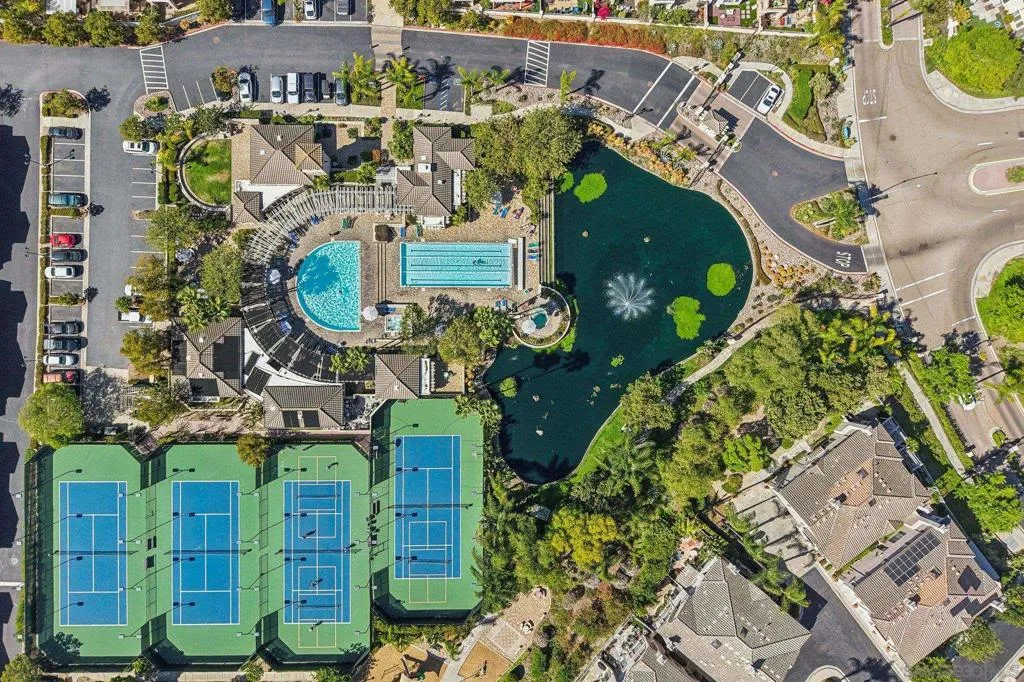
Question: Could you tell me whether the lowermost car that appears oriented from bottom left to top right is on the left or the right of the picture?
right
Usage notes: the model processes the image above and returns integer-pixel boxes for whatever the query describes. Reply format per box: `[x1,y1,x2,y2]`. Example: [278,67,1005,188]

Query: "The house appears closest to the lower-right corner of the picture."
[841,510,1002,663]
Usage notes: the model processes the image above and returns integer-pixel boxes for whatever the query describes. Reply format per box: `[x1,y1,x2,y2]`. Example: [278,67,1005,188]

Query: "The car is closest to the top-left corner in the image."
[52,126,83,140]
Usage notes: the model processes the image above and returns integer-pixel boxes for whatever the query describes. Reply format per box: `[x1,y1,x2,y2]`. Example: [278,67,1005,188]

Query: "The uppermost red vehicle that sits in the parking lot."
[50,234,81,247]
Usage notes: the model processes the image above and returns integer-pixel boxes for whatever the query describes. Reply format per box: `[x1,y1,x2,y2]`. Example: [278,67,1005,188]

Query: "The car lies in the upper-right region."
[757,86,780,115]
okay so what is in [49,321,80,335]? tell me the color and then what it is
gray car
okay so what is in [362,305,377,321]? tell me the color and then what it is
white umbrella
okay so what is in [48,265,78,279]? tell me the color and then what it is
white car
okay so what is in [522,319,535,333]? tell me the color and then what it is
white umbrella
